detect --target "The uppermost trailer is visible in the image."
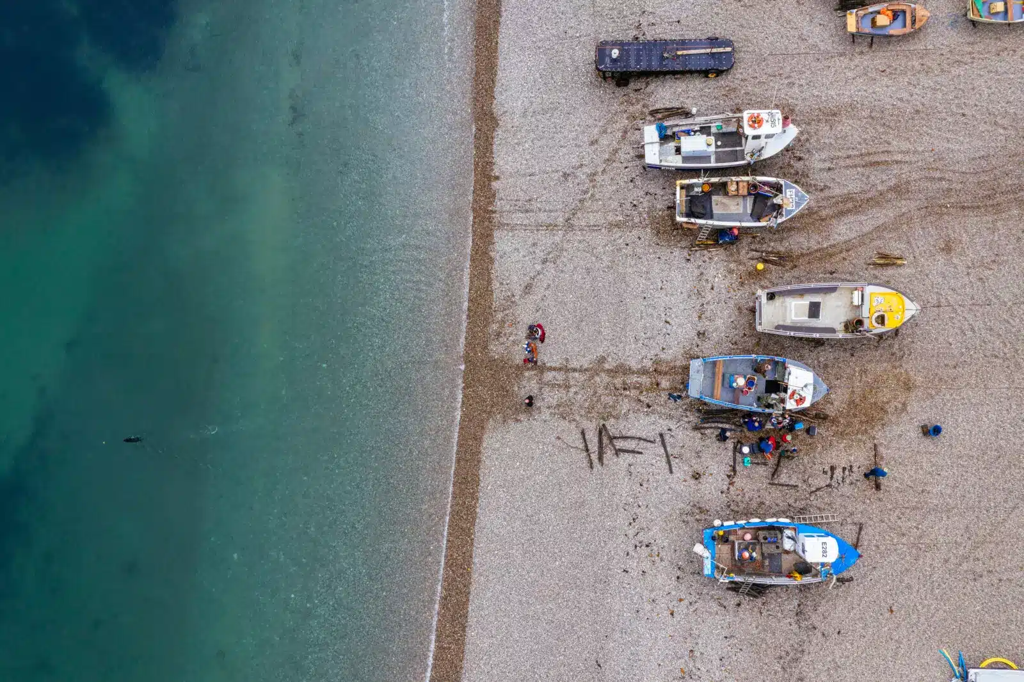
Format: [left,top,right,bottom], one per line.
[595,35,734,86]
